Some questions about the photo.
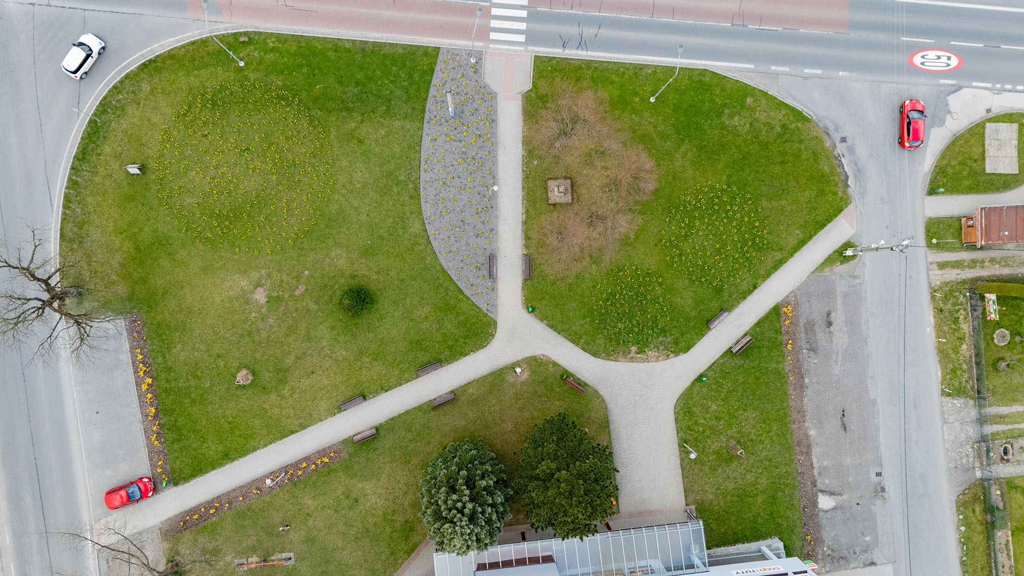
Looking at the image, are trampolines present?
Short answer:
No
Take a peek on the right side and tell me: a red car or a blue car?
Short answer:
red car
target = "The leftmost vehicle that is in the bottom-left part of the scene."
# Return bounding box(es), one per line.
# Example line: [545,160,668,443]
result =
[102,475,159,511]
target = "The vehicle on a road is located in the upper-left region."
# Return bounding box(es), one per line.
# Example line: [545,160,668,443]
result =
[62,34,105,82]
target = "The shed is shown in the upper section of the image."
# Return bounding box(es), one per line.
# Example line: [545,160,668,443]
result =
[963,204,1024,248]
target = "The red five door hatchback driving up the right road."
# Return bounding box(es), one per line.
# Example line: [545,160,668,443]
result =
[897,100,928,151]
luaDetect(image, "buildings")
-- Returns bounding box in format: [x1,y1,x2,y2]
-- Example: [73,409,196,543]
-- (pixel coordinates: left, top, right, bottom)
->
[433,509,818,576]
[963,204,1024,248]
